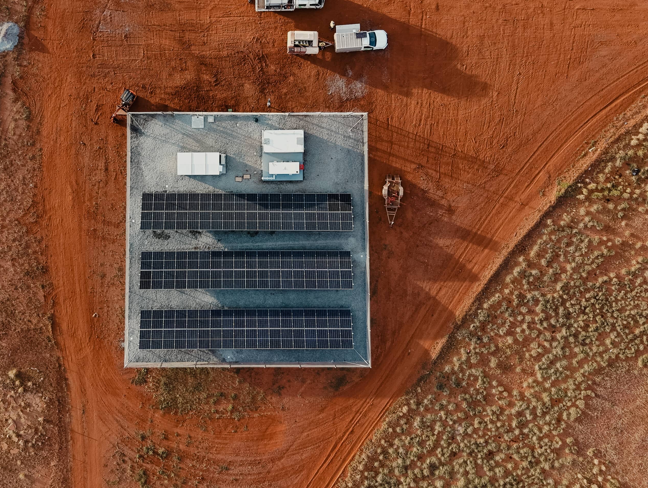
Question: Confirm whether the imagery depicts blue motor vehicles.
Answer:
No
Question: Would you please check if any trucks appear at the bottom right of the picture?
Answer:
No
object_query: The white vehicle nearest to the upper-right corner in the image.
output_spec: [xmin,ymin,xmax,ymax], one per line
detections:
[332,17,389,52]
